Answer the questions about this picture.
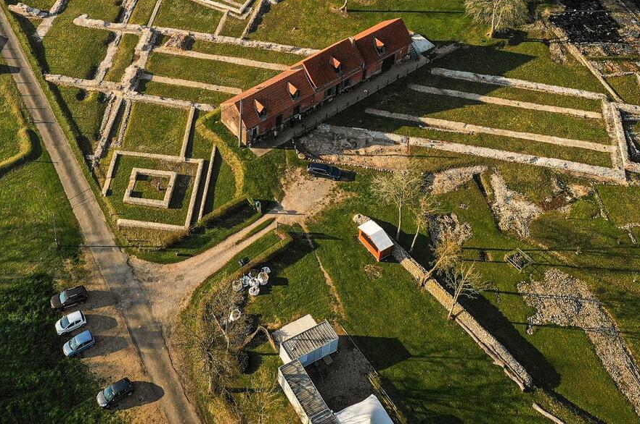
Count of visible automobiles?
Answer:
5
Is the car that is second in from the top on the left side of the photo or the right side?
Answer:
left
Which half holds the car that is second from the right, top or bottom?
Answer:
bottom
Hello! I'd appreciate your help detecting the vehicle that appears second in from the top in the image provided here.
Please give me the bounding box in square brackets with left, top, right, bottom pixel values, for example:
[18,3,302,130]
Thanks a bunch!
[50,284,88,311]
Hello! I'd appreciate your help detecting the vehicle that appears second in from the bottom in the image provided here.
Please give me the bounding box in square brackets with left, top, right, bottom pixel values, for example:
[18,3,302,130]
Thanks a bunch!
[62,330,97,358]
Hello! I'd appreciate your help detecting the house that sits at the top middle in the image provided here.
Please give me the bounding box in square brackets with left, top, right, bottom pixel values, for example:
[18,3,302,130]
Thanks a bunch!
[217,16,413,148]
